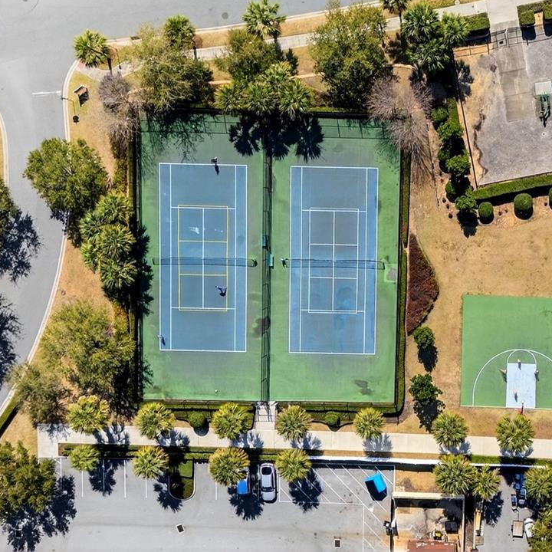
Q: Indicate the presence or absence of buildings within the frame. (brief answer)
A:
No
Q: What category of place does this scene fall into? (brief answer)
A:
sports ground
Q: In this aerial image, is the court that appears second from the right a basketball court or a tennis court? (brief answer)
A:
tennis court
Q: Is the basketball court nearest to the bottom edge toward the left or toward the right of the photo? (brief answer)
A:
right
